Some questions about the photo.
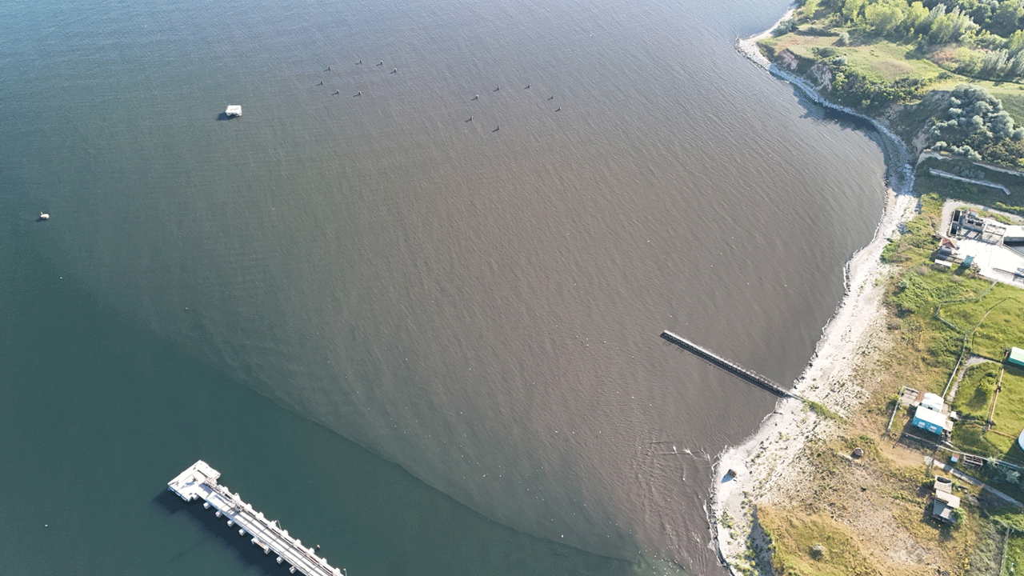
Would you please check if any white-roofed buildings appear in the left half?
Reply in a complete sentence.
No, looking in the left half, there is no white-roofed building.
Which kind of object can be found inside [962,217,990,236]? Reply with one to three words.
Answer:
building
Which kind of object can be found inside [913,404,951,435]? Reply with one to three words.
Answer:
building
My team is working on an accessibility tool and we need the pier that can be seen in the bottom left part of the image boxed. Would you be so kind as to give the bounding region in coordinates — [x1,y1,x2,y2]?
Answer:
[167,459,345,576]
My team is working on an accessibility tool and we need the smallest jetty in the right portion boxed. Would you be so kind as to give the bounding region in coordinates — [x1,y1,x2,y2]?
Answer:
[664,331,804,405]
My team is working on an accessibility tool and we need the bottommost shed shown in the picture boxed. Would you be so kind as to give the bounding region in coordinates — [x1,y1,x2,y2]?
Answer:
[935,492,966,527]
